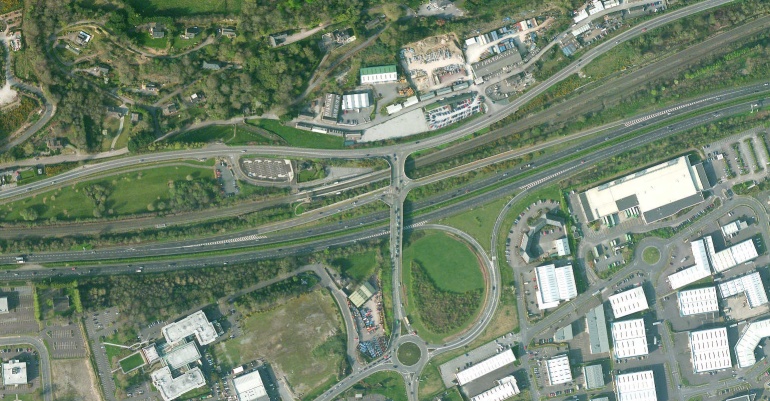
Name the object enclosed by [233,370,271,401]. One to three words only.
building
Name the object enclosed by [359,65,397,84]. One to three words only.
building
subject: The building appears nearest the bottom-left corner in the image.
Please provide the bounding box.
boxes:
[2,360,27,386]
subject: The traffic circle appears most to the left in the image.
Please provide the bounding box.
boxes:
[391,336,427,372]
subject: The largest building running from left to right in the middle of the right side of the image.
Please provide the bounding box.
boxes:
[577,155,703,225]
